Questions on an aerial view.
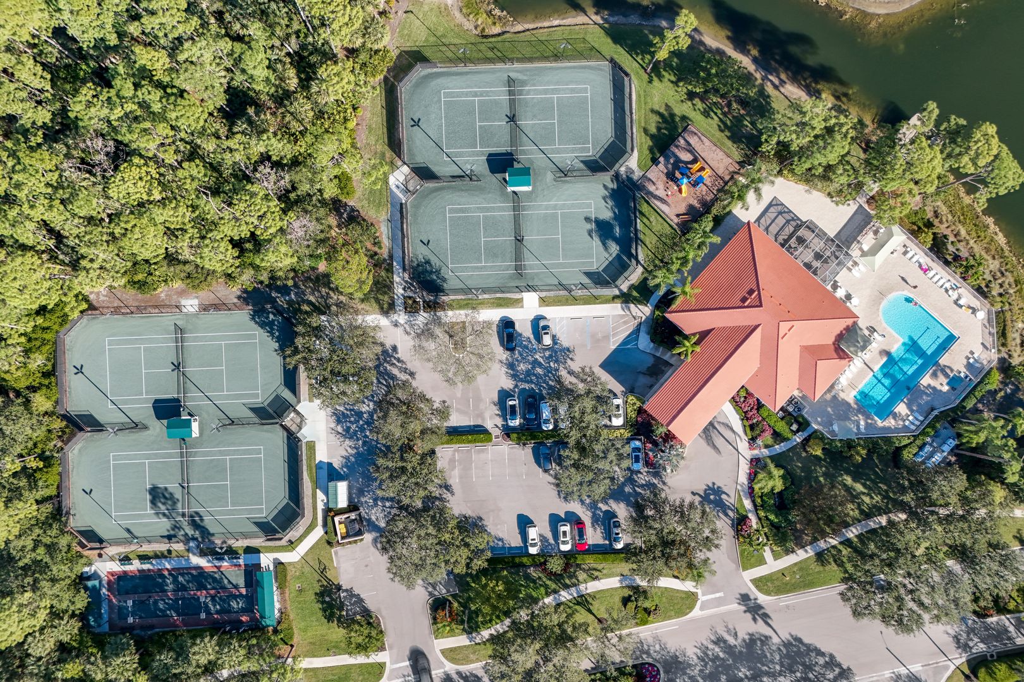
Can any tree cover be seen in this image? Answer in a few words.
Yes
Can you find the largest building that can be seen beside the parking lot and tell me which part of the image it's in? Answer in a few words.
right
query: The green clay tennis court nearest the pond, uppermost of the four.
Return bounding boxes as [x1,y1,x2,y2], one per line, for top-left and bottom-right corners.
[401,61,631,182]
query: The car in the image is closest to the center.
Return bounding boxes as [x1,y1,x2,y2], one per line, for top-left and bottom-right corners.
[503,320,516,350]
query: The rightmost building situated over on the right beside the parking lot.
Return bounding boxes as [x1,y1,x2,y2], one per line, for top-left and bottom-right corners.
[643,219,859,447]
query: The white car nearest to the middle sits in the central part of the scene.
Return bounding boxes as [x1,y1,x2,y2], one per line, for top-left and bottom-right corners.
[539,318,553,348]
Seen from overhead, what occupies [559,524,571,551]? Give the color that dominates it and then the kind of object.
white vehicle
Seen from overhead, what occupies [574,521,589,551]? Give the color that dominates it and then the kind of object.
red car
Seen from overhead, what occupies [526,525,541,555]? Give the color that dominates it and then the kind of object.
white car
